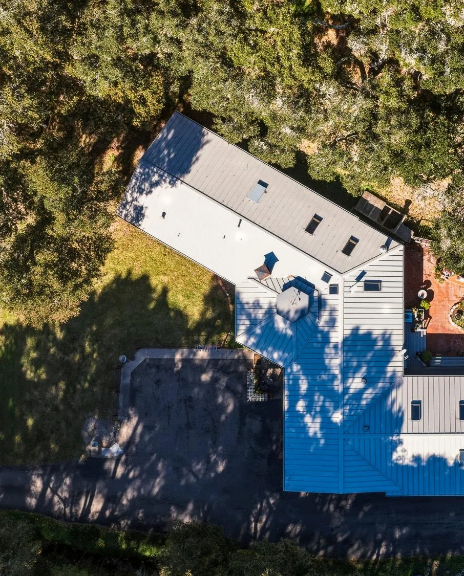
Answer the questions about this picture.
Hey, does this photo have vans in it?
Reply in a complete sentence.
No, the scene contains no van.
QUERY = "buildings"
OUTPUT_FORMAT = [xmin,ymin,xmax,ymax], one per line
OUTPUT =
[118,111,464,497]
[354,190,413,242]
